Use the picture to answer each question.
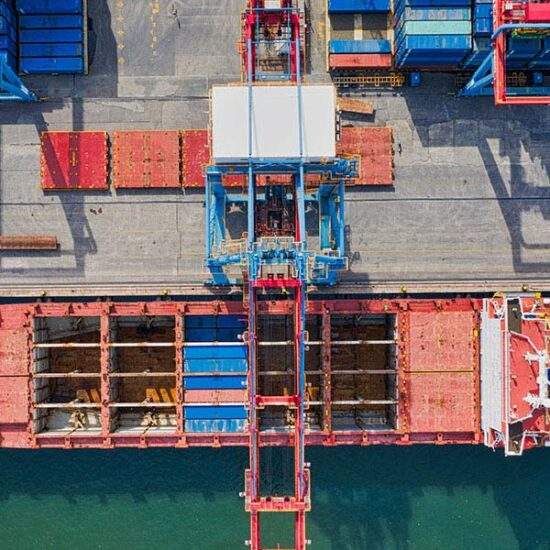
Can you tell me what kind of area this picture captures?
port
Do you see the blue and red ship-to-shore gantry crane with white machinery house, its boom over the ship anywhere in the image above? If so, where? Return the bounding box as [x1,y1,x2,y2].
[199,0,363,550]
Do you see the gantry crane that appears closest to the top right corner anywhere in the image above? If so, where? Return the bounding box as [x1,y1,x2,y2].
[457,0,550,103]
